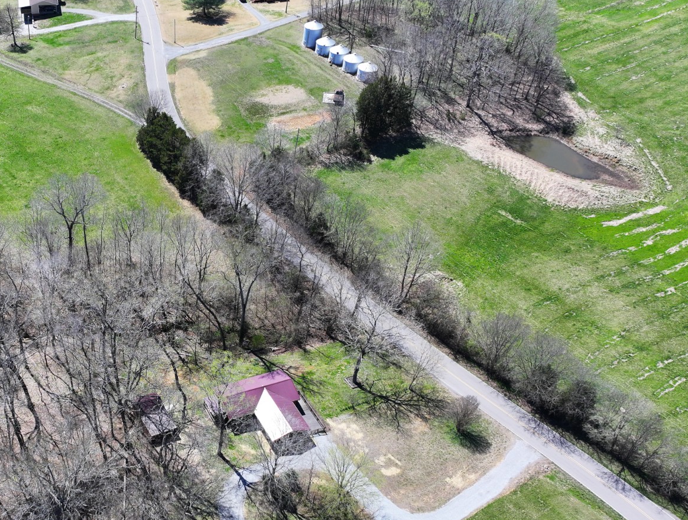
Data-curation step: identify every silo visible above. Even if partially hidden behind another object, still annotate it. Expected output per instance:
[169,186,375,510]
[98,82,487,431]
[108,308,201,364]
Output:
[356,60,379,84]
[301,19,324,51]
[342,51,365,74]
[327,44,350,67]
[314,35,337,58]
